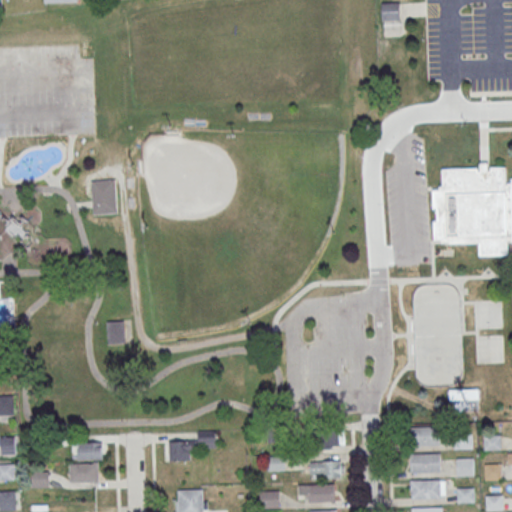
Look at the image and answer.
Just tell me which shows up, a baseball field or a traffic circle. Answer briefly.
baseball field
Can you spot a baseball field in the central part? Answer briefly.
Yes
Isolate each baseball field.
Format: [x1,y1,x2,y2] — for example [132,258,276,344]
[140,132,346,340]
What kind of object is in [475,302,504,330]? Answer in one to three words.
basketball court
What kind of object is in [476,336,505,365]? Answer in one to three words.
basketball court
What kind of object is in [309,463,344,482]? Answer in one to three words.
house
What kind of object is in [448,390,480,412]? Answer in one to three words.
building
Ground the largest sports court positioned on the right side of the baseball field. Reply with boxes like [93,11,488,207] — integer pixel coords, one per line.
[414,285,464,386]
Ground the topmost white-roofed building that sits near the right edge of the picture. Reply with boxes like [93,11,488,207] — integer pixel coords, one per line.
[432,161,512,258]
